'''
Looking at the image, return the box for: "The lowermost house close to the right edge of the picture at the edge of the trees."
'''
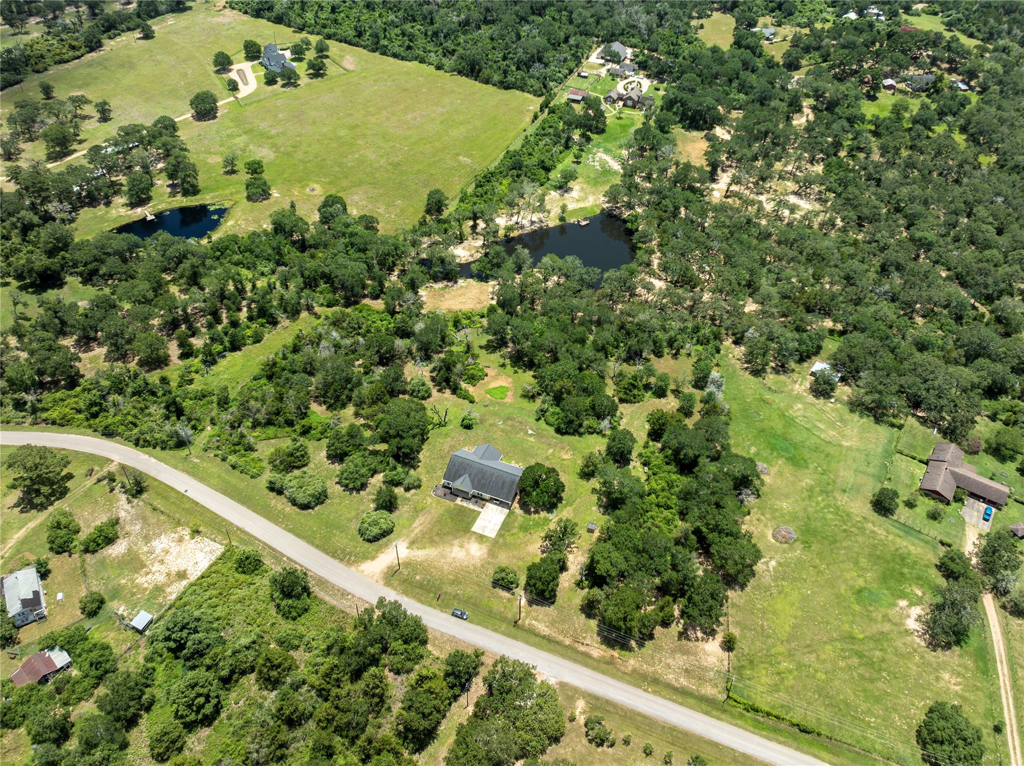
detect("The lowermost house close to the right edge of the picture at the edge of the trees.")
[920,444,1010,507]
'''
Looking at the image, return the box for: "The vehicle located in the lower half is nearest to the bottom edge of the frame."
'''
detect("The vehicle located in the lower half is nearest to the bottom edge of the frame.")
[449,607,470,622]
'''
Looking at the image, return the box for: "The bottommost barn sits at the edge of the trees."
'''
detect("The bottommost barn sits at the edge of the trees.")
[10,644,75,693]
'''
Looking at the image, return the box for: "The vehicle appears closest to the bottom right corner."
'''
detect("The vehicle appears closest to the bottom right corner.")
[983,505,995,521]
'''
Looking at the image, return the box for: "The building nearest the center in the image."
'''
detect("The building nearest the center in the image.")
[442,444,528,509]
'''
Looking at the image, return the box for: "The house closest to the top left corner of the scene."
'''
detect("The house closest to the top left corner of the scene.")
[261,40,302,78]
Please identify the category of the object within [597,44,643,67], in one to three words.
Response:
barn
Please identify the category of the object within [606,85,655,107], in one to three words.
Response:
house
